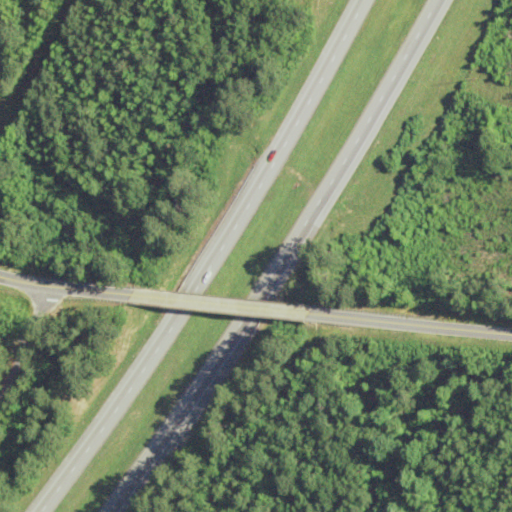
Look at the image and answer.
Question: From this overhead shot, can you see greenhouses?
No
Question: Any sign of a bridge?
Yes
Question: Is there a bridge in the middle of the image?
Yes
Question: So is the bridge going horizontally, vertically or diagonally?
horizontally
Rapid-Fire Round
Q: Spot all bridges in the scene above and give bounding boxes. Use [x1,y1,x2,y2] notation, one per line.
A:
[125,286,312,324]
